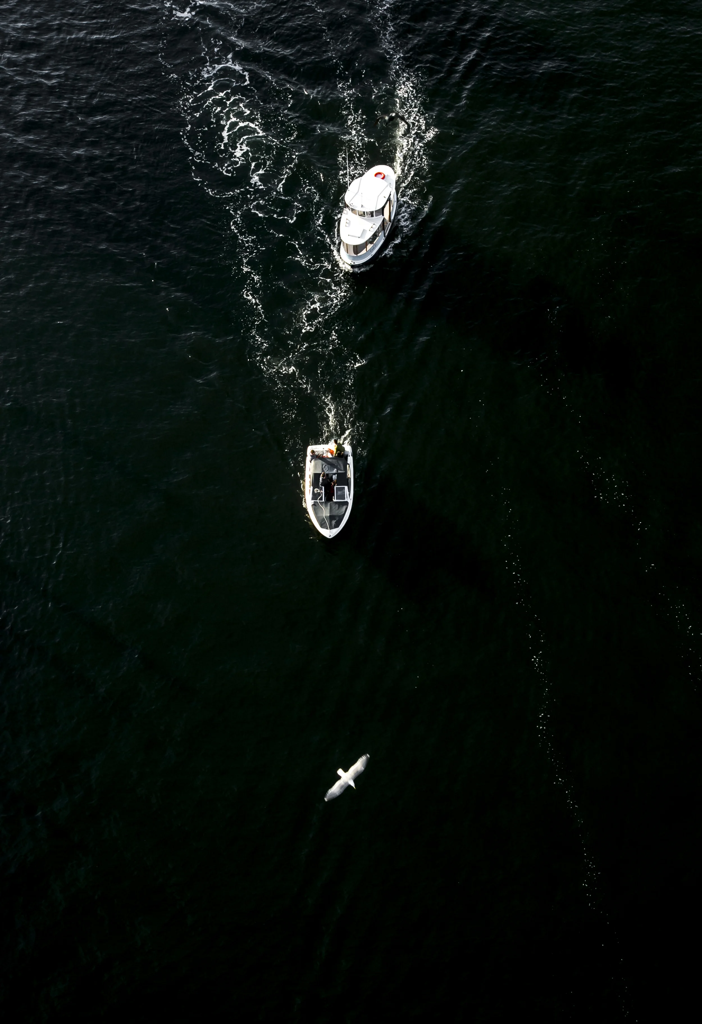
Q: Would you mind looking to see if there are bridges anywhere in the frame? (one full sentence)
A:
No, the frame has no bridge in it.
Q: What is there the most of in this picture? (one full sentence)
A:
The largest share of the image is taken up by water.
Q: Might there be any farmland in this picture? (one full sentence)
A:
No, there's no farmland in this view.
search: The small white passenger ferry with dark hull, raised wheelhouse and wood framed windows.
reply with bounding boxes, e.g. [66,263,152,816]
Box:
[341,155,397,270]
